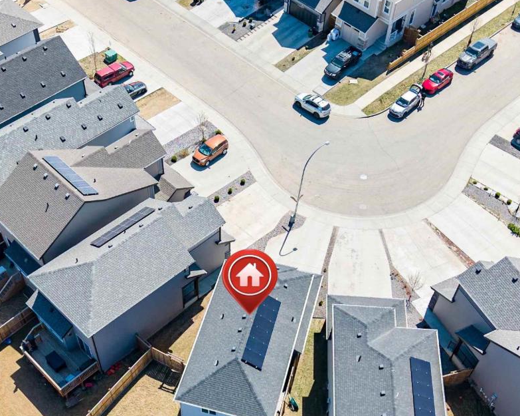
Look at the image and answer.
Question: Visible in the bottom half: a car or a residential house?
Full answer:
The feature located in the bottom half is a residential house.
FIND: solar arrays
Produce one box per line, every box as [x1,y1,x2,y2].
[43,156,98,194]
[409,358,435,416]
[91,207,154,248]
[241,295,281,370]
